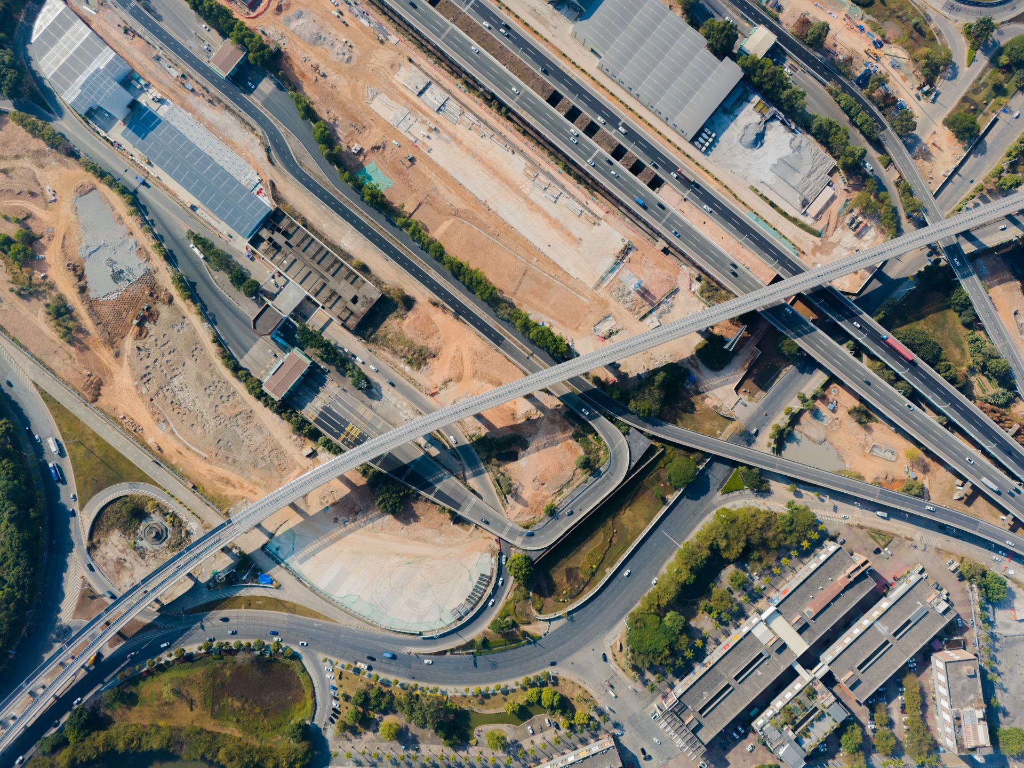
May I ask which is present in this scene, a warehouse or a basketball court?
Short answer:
warehouse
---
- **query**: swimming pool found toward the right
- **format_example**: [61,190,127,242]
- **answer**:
[813,408,829,422]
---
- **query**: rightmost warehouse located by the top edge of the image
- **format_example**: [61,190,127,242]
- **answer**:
[571,0,744,145]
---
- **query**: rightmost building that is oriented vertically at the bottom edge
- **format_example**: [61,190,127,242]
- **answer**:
[927,648,994,756]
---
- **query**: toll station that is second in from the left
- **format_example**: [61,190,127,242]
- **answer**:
[262,347,319,403]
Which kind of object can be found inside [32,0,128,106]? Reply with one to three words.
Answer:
building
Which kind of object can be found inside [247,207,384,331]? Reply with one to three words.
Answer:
building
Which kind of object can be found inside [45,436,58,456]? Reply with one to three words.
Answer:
vehicle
